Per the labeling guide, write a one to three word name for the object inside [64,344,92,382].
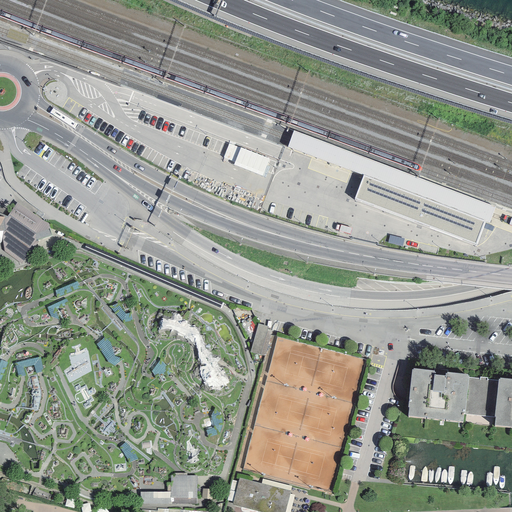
building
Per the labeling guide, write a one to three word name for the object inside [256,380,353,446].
tennis court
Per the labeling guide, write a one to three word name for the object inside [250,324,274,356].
shed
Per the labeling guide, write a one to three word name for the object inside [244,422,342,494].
tennis court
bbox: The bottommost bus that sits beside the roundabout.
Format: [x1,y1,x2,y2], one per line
[50,108,78,131]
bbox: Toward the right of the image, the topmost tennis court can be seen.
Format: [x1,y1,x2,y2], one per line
[266,337,364,403]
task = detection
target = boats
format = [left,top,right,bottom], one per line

[500,474,505,487]
[486,471,492,485]
[494,464,500,484]
[435,467,440,482]
[442,469,447,483]
[461,469,466,484]
[410,464,415,480]
[467,472,473,484]
[448,464,454,483]
[422,466,428,482]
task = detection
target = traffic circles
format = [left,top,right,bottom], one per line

[0,54,40,130]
